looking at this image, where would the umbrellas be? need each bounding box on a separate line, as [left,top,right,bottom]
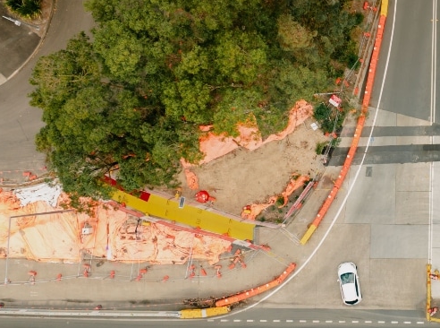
[197,189,210,203]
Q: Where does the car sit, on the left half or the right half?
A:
right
